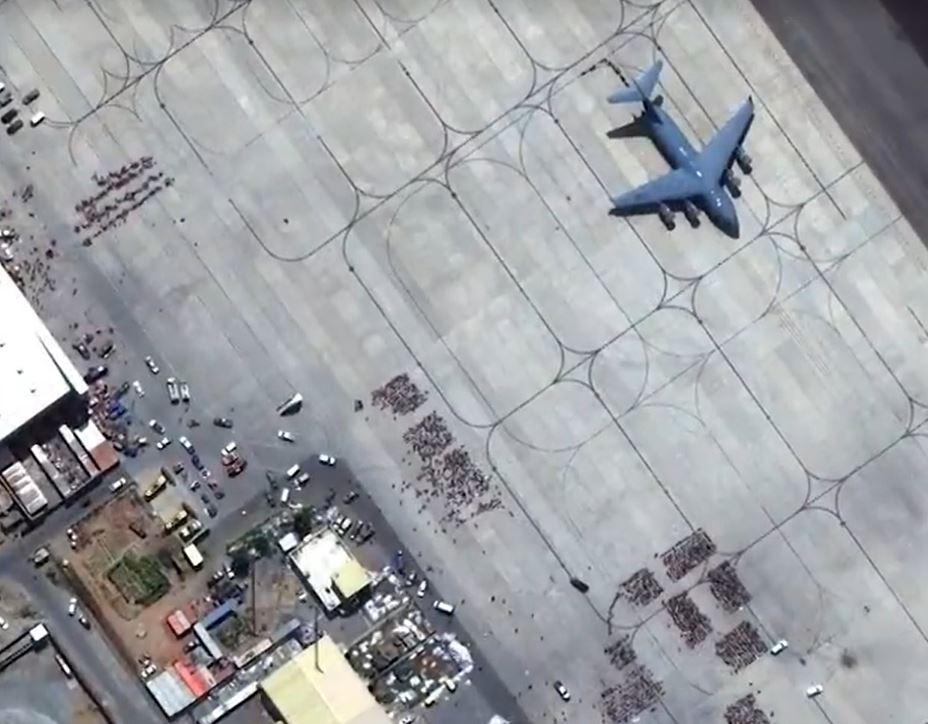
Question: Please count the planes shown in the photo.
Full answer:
I count 1 plane.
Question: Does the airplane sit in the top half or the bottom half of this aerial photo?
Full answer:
You can find the airplane in the top half.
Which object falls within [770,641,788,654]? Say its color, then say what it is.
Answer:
white vehicle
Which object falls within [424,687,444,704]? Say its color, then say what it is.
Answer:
white vehicle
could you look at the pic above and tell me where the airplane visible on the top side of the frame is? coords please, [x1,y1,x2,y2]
[607,62,755,234]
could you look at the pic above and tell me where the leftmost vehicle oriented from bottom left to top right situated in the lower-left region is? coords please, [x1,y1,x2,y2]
[32,549,49,563]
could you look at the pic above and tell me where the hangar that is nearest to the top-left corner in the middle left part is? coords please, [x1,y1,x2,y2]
[0,253,86,439]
